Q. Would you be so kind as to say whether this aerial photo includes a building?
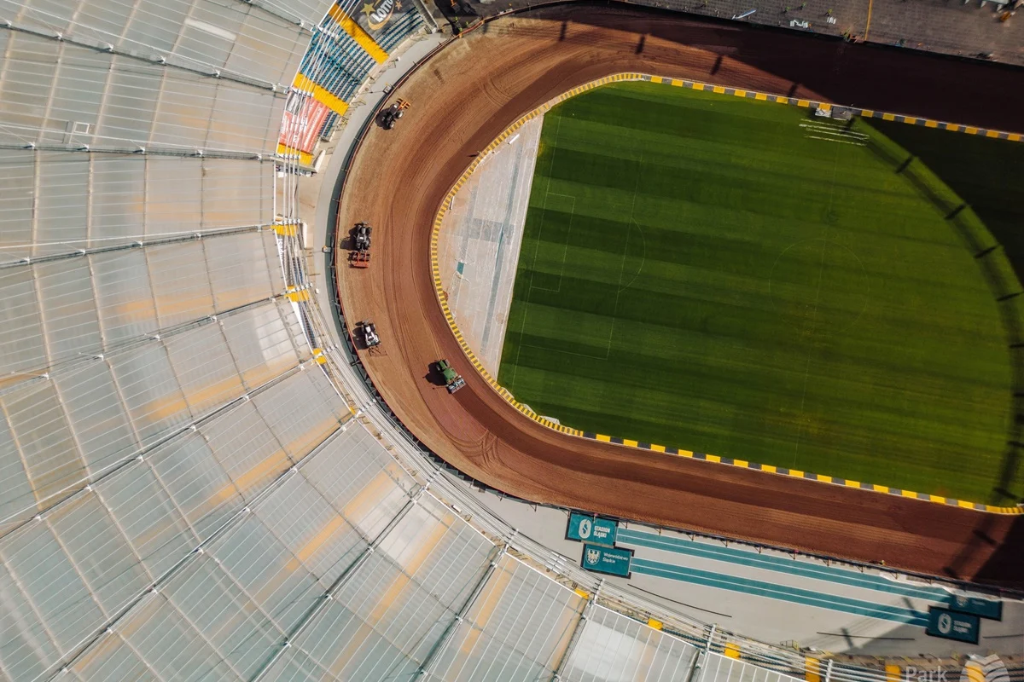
No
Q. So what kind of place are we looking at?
sports ground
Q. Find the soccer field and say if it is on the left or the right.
right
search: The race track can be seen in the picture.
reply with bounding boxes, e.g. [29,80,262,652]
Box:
[335,1,1024,594]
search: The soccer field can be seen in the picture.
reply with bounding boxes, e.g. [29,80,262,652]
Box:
[495,80,1024,509]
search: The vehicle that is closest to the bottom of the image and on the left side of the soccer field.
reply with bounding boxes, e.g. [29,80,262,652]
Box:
[433,354,465,394]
